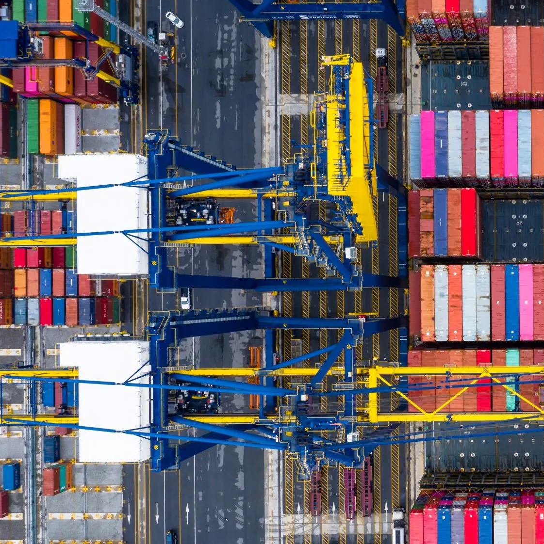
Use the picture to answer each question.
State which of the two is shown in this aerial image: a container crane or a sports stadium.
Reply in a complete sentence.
Looking from above, you can make out a container crane.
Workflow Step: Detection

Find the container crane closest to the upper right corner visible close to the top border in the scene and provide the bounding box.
[218,0,407,71]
